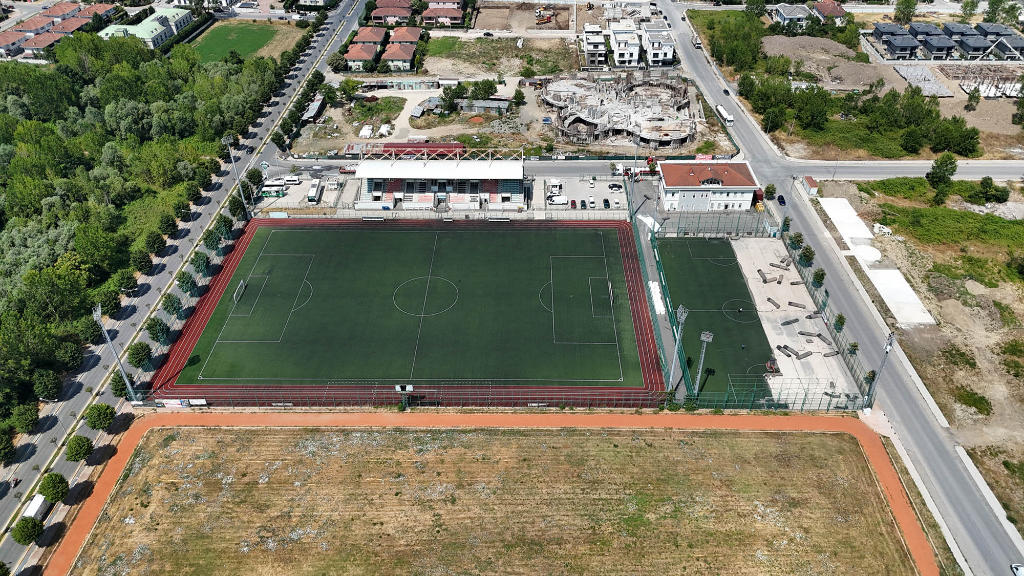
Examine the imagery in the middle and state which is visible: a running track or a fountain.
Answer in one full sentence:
Looking in the middle, you will find a running track.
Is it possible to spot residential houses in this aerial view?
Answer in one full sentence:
Yes, there's a residential house here.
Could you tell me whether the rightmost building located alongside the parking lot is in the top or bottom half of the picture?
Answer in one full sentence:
The rightmost building located alongside the parking lot is in the top half of the image.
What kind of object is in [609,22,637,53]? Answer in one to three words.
house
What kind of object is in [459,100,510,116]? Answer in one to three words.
shed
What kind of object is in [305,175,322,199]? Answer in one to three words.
vehicle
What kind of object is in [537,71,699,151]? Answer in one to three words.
building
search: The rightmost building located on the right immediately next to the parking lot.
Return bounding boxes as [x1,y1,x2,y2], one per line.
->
[653,156,762,210]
